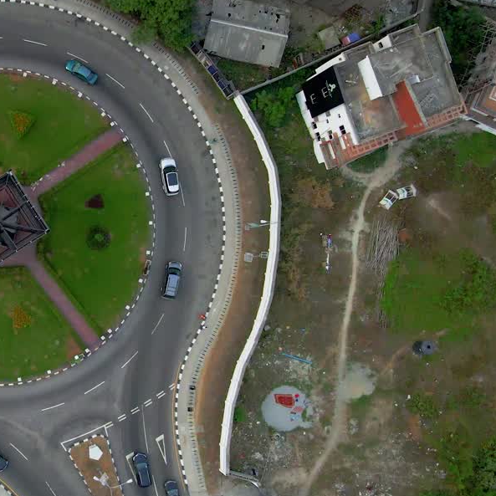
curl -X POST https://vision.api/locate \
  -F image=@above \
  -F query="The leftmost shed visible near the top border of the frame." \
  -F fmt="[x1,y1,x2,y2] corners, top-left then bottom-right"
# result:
[199,0,290,72]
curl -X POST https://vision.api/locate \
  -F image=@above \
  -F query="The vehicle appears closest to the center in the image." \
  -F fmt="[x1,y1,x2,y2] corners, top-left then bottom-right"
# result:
[161,262,183,300]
